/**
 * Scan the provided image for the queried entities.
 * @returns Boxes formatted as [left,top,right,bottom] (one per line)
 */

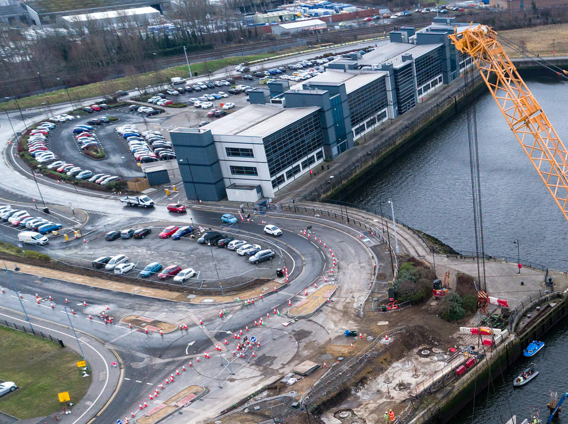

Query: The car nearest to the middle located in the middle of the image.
[263,223,282,236]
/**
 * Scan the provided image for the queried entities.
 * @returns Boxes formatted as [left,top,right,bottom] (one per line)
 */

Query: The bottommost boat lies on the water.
[512,361,540,384]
